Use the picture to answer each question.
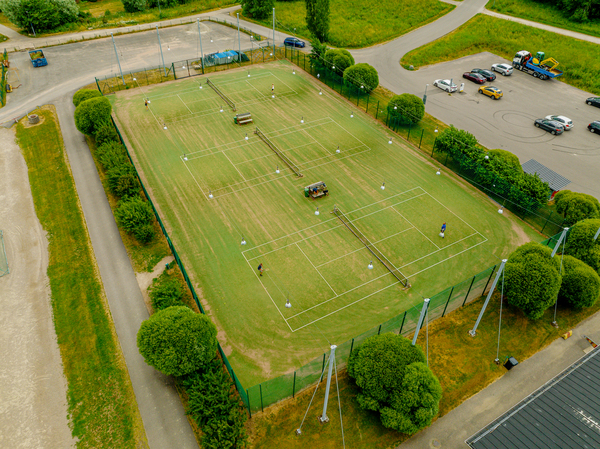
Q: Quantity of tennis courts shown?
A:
3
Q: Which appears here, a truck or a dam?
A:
truck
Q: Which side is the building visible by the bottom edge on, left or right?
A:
right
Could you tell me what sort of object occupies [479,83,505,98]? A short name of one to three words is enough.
car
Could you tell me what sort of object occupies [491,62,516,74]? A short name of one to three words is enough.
vehicle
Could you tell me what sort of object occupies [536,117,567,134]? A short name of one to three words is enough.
car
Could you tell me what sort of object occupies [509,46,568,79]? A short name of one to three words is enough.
truck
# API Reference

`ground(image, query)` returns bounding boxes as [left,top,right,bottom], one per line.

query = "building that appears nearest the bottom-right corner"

[463,346,600,449]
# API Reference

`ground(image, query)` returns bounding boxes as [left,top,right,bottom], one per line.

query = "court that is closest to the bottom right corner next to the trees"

[237,184,493,336]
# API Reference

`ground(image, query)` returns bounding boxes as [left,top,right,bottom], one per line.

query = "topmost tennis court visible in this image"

[139,71,301,128]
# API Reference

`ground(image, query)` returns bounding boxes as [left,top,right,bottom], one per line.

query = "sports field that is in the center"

[104,58,557,412]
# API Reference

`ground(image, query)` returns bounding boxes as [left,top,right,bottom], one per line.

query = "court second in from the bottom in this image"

[177,115,374,202]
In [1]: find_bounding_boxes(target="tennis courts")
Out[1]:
[237,184,493,336]
[177,115,374,202]
[139,71,301,128]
